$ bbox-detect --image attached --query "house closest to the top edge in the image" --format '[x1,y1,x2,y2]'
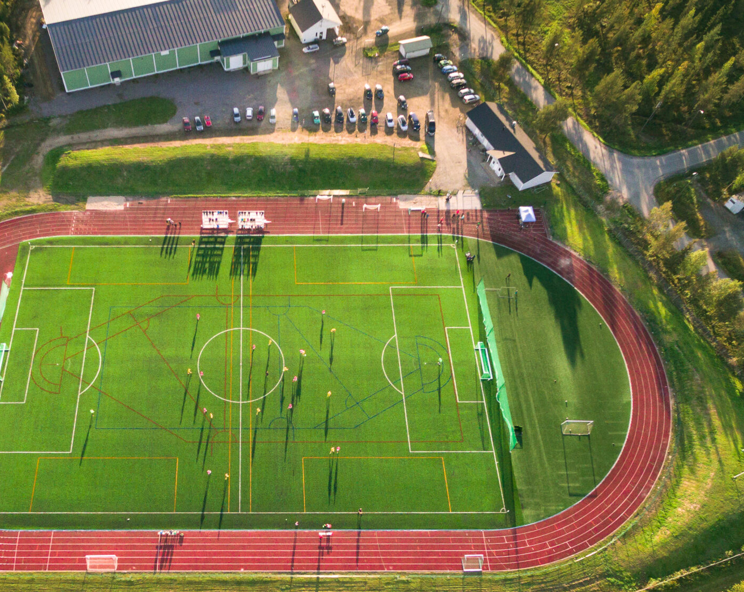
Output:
[290,0,345,43]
